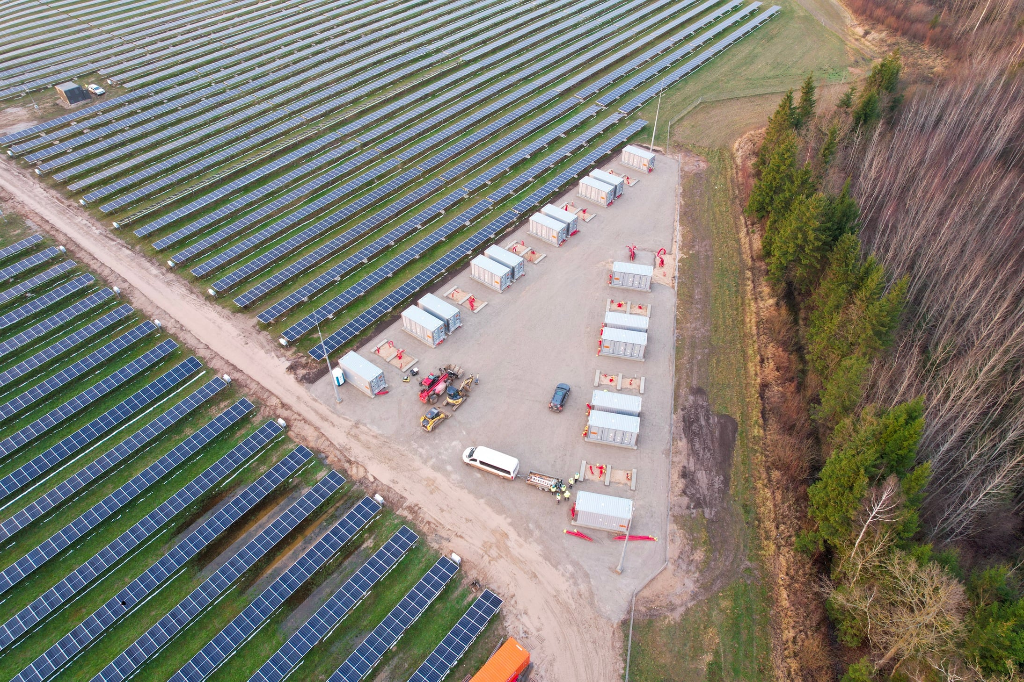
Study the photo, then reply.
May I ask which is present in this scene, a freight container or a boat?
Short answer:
freight container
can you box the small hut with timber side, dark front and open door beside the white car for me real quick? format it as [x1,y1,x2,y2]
[57,81,90,104]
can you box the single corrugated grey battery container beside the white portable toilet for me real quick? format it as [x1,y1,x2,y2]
[338,351,386,396]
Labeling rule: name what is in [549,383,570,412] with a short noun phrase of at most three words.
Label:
car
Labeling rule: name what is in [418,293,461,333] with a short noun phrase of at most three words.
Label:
shipping container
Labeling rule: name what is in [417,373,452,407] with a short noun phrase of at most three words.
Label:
work vehicle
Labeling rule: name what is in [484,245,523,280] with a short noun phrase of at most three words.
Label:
shipping container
